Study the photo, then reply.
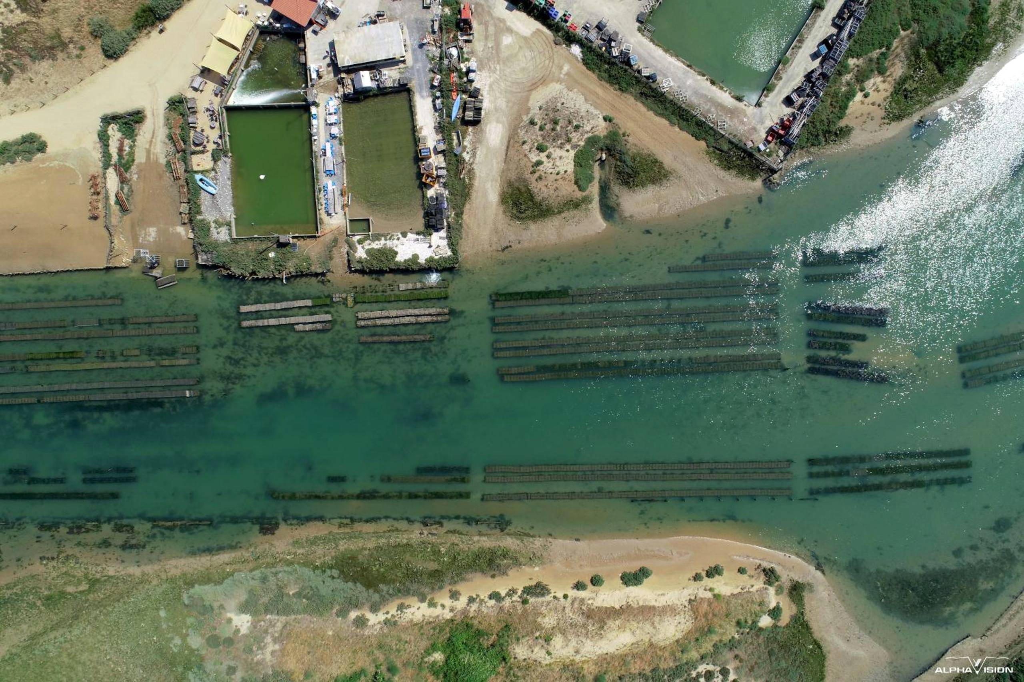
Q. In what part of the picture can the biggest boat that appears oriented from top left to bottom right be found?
top left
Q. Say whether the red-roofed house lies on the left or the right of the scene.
left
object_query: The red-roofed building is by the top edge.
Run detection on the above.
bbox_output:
[270,0,327,34]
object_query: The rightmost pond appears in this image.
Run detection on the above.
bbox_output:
[652,0,818,107]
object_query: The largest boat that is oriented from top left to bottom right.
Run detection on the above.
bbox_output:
[195,174,220,197]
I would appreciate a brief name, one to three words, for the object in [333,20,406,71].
shed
